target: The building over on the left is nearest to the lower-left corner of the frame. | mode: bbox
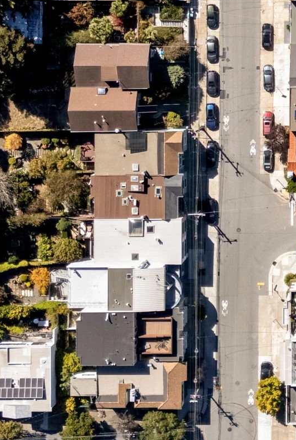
[0,337,60,421]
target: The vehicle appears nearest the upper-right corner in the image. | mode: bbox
[262,23,274,50]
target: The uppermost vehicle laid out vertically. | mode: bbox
[206,2,218,29]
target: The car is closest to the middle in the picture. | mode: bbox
[207,199,219,226]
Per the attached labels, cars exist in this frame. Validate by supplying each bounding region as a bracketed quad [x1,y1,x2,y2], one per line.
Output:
[260,358,272,384]
[207,70,219,97]
[263,64,275,91]
[206,36,218,62]
[207,199,219,226]
[206,142,218,169]
[262,147,274,172]
[206,2,218,29]
[262,23,274,50]
[206,102,217,129]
